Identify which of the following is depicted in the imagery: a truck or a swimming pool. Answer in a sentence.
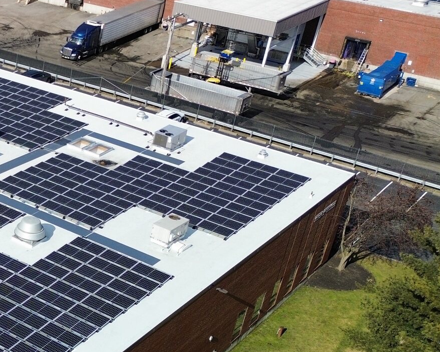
I can see a truck in this picture.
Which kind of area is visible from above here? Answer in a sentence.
This image shows an industrial area.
